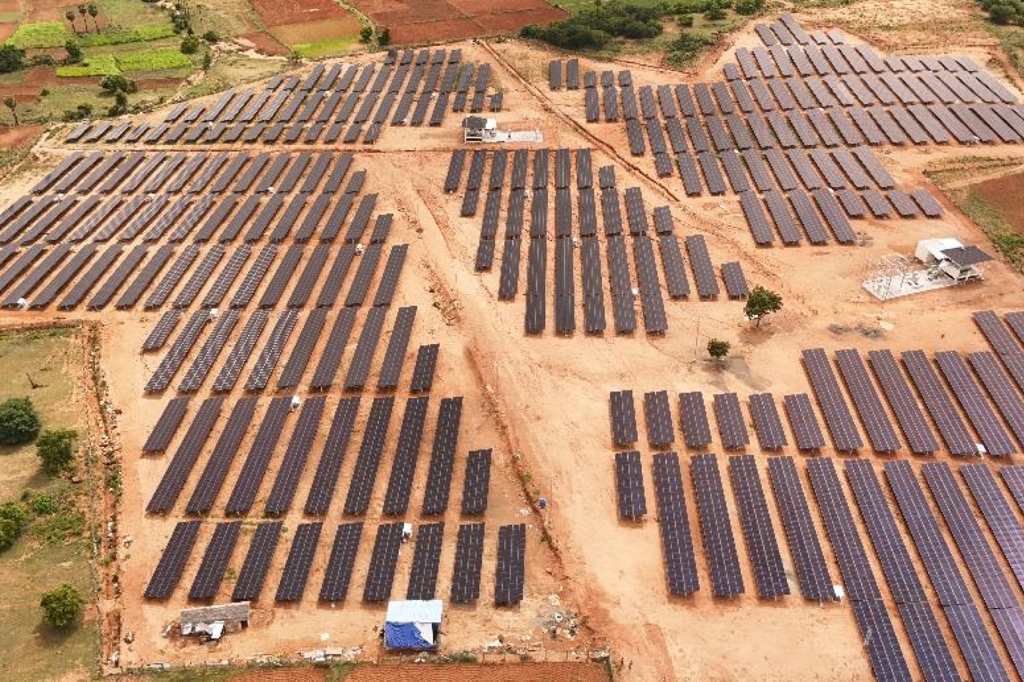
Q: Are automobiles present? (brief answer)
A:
No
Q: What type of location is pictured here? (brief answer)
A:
solar farm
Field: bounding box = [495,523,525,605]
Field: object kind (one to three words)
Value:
solar array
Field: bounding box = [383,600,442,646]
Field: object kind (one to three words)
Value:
shed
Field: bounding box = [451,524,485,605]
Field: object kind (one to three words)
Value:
solar array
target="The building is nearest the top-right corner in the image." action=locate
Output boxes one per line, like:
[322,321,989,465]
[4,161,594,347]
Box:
[916,234,968,268]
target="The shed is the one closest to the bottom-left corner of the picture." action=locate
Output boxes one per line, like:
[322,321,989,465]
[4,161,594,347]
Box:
[176,601,251,633]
